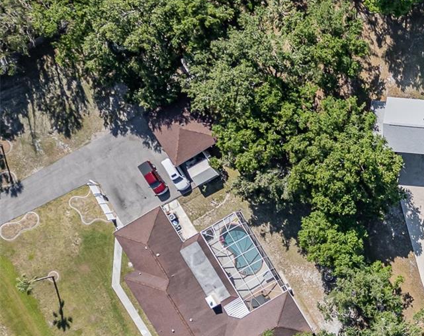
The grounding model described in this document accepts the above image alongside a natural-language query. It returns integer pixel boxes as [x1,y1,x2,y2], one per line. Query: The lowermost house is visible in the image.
[114,206,315,336]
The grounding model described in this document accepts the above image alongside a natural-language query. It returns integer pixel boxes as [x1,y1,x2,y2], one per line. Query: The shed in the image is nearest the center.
[188,159,220,186]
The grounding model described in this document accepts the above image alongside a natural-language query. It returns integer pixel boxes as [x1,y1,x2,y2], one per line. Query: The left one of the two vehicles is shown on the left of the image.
[138,159,170,197]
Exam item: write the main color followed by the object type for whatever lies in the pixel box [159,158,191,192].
white van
